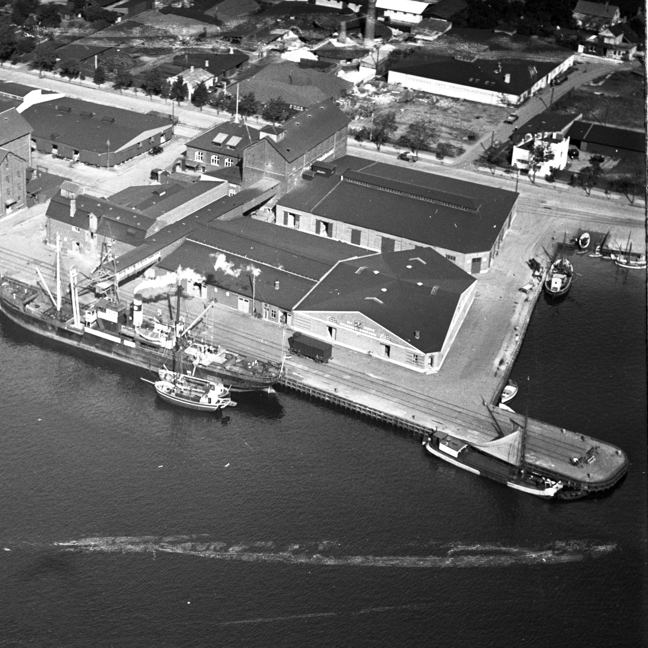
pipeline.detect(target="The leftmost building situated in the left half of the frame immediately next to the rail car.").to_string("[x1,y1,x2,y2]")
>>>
[146,218,360,328]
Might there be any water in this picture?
Yes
